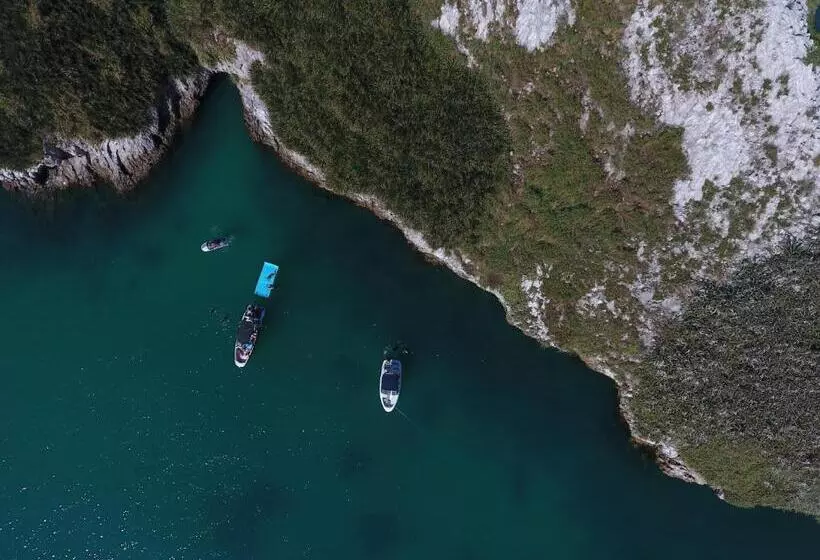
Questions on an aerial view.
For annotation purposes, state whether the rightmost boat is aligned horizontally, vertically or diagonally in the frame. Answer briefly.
vertically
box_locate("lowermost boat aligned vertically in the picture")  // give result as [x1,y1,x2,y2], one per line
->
[380,357,403,413]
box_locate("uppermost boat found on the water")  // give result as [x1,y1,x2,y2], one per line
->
[201,234,231,249]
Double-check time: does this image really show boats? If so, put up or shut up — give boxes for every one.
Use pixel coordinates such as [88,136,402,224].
[201,234,231,249]
[235,303,263,365]
[380,357,403,413]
